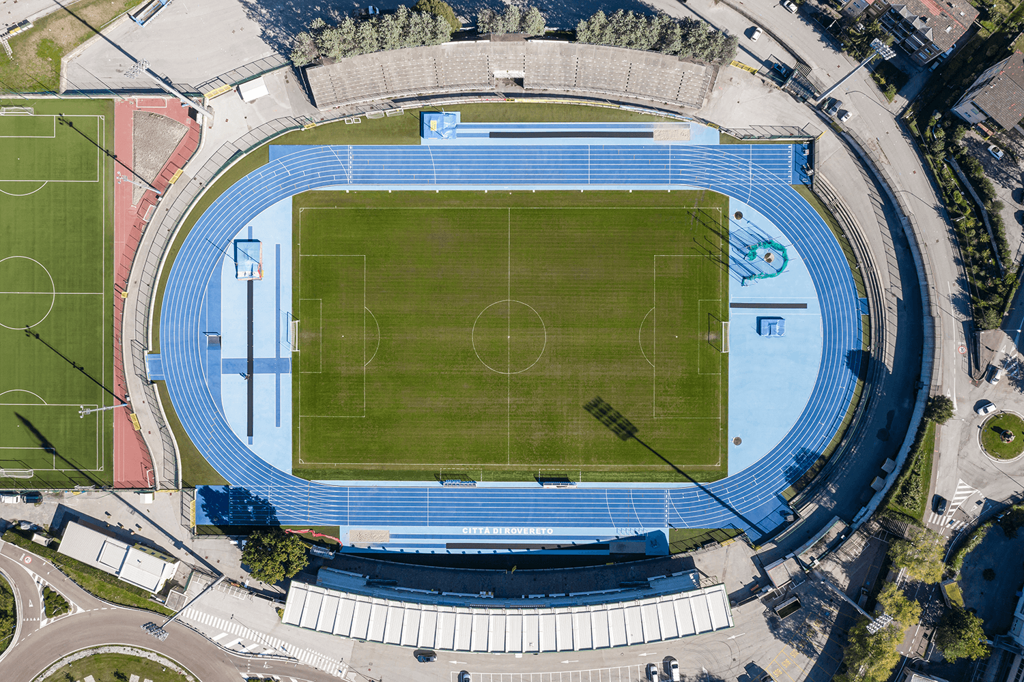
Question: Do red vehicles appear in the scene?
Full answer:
No, no red vehicle is visible in the scene.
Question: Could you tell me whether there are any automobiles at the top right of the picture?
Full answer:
Yes, at the top right of the picture there is an automobile.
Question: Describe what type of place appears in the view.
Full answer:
This image shows a sports ground.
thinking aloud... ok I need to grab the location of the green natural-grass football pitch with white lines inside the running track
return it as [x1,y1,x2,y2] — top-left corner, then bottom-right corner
[292,190,729,482]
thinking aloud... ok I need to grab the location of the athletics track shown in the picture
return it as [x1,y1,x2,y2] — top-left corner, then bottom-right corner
[147,144,869,544]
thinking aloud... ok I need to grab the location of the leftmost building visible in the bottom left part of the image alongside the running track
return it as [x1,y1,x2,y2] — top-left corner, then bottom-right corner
[58,513,187,594]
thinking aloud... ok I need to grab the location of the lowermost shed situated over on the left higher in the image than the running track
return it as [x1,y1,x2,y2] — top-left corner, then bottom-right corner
[240,77,271,104]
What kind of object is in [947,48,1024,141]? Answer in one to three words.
house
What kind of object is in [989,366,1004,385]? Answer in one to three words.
car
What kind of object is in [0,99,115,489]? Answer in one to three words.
soccer field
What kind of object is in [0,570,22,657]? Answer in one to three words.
roundabout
